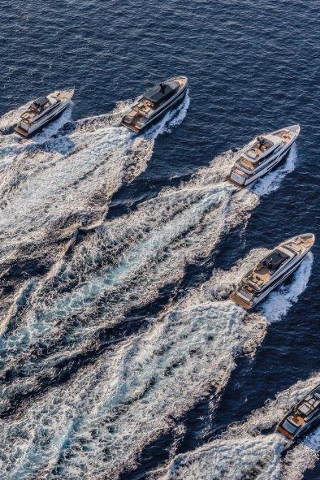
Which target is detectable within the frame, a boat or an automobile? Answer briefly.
boat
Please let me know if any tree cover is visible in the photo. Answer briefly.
No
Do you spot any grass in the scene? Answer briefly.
No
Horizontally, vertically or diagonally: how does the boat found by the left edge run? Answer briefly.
diagonally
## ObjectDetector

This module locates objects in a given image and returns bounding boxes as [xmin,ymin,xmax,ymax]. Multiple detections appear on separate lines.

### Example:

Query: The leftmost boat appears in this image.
[13,85,74,138]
